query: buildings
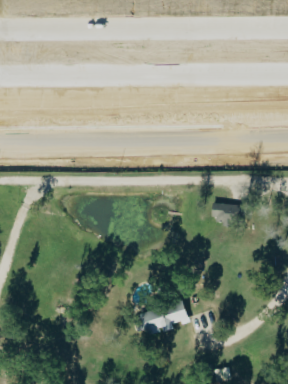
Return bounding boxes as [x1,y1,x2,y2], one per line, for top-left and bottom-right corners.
[144,301,190,331]
[212,201,240,230]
